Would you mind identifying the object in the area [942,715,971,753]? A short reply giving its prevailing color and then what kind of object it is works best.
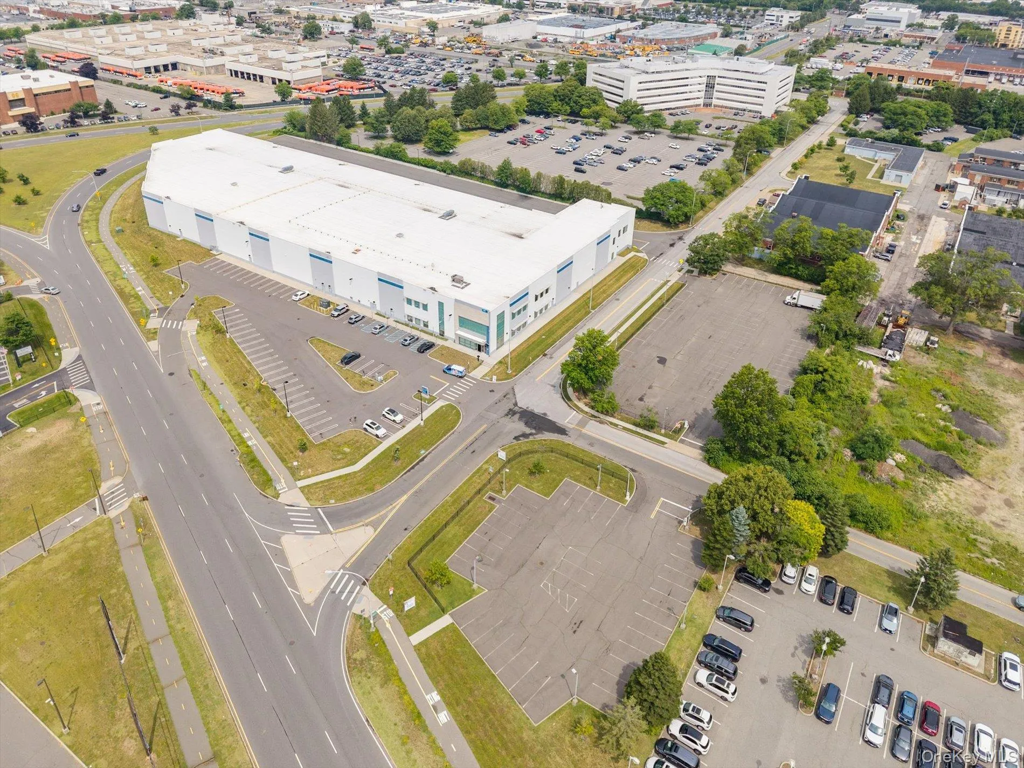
gray car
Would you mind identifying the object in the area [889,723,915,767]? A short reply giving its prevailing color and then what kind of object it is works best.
gray car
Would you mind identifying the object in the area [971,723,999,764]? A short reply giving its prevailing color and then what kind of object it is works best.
white car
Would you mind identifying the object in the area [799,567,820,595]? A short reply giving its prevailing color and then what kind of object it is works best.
white car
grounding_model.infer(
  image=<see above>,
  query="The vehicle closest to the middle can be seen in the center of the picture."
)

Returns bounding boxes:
[439,363,470,378]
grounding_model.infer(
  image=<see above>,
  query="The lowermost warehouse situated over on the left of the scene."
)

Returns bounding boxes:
[142,129,636,355]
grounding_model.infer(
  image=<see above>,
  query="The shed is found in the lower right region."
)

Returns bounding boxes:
[936,614,984,672]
